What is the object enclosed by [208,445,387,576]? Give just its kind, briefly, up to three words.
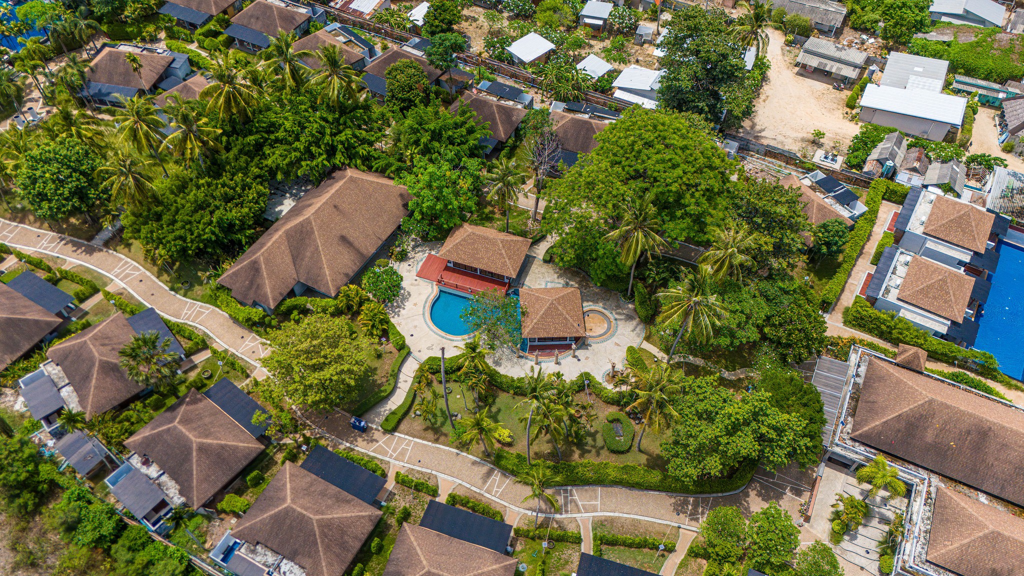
house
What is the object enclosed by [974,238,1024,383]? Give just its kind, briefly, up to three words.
swimming pool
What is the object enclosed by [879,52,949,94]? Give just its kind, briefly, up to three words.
house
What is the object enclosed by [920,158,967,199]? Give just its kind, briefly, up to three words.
shed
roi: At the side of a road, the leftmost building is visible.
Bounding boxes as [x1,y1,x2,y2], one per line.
[0,270,82,374]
